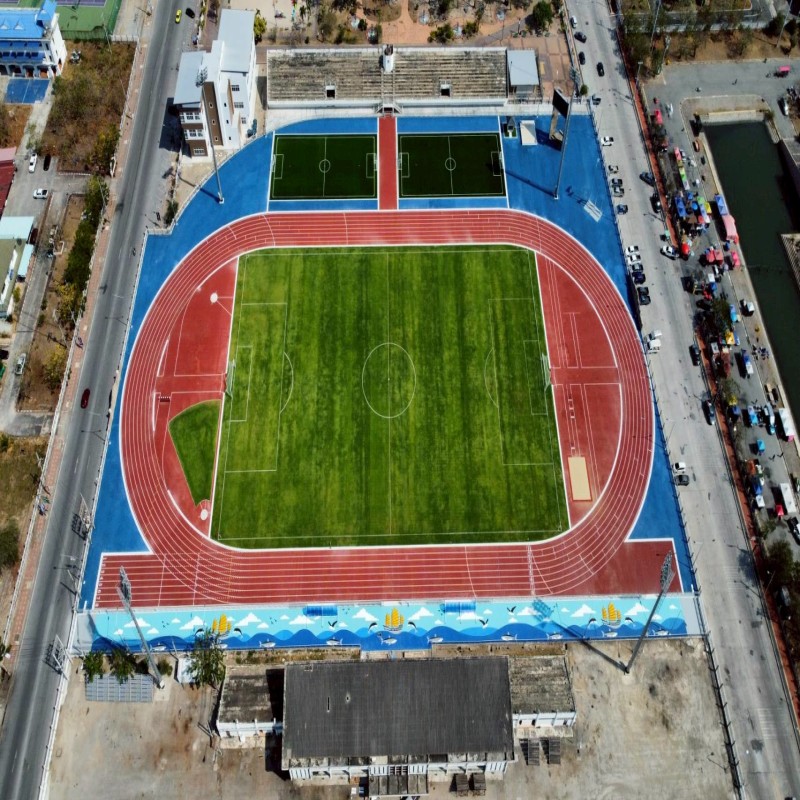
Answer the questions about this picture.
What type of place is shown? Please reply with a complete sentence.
This image shows a sports ground.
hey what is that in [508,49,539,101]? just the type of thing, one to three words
building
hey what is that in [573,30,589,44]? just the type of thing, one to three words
car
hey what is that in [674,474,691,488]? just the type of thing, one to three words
vehicle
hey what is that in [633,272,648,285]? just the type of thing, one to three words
vehicle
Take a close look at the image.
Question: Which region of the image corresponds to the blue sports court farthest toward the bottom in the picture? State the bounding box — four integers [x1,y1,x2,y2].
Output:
[5,78,51,103]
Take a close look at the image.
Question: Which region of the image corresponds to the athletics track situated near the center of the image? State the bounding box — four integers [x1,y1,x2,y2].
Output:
[92,118,684,607]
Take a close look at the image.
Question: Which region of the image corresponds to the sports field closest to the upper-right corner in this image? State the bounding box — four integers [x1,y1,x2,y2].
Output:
[398,133,506,198]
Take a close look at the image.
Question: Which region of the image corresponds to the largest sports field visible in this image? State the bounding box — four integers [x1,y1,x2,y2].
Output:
[207,242,571,549]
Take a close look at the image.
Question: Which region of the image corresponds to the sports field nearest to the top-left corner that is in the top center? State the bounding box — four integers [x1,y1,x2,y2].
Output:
[270,134,378,198]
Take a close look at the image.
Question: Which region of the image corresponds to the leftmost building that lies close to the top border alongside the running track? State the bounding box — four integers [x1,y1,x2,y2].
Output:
[173,7,262,156]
